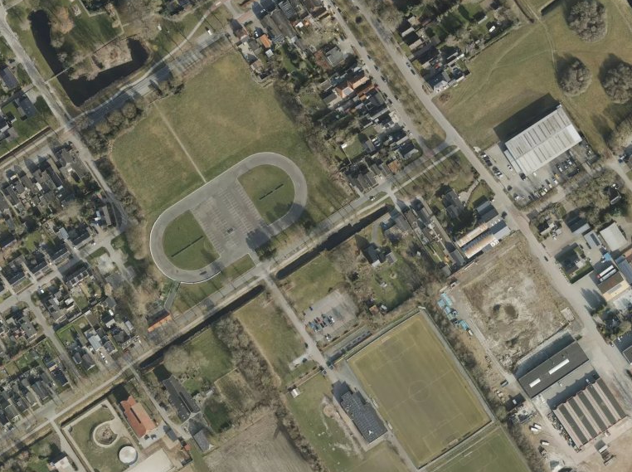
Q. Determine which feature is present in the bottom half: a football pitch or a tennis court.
football pitch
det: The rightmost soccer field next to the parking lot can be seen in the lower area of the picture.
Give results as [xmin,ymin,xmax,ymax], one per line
[348,311,491,466]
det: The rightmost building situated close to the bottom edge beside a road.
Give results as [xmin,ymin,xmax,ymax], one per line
[555,378,629,450]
